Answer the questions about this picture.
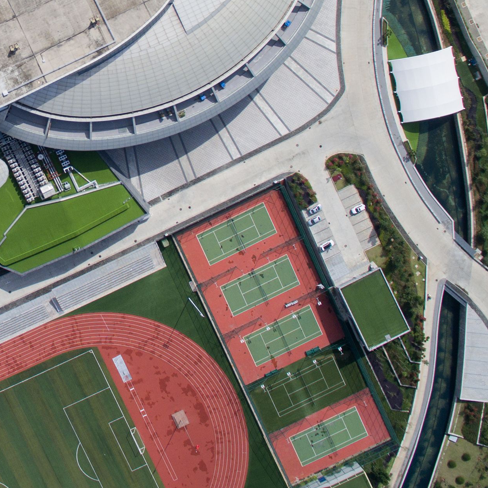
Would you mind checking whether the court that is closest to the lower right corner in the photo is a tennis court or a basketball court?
tennis court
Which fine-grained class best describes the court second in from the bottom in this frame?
tennis court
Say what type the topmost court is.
tennis court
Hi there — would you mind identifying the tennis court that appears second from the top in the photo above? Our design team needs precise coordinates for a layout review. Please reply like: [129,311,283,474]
[219,255,299,317]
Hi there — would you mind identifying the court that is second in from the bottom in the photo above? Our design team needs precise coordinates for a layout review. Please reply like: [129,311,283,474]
[266,357,345,417]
